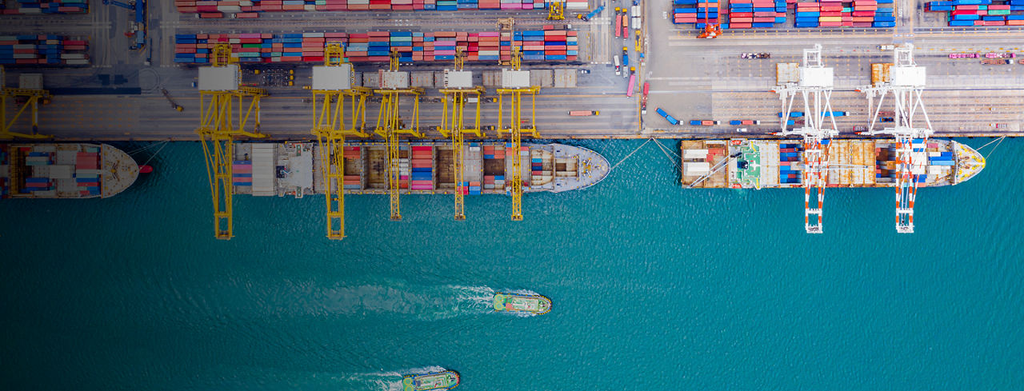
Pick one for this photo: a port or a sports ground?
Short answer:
port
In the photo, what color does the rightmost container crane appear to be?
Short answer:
white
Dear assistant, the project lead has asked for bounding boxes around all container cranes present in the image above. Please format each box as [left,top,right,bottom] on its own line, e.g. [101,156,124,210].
[198,42,269,239]
[311,42,375,239]
[496,19,516,70]
[493,47,546,220]
[0,65,45,151]
[851,38,929,233]
[545,0,566,27]
[697,0,721,43]
[439,51,491,219]
[766,38,834,233]
[374,51,430,220]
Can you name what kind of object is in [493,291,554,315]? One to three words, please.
boat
